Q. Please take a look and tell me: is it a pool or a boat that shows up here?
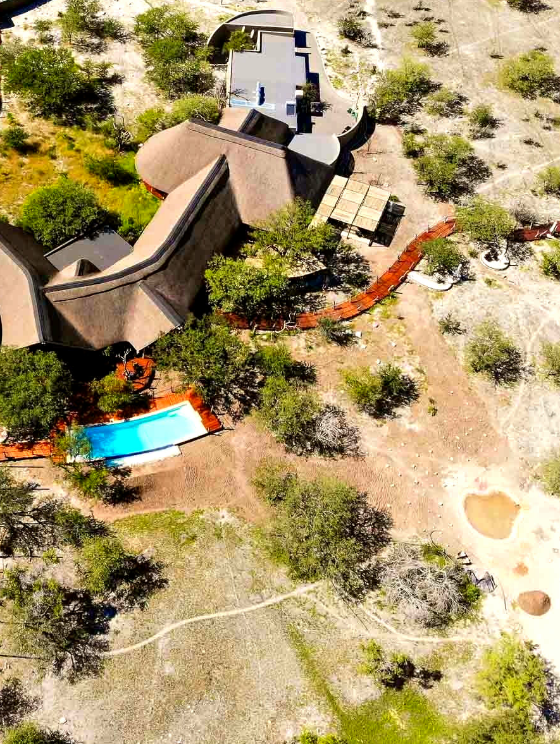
pool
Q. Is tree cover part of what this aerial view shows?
Yes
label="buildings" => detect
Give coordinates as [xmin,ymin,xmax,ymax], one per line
[221,8,294,45]
[0,108,331,357]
